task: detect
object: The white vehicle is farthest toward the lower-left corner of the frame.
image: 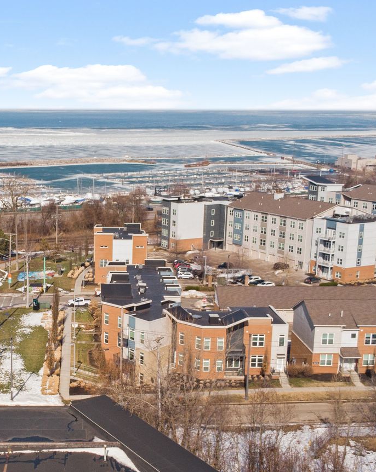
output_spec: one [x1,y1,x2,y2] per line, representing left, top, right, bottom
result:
[65,296,93,308]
